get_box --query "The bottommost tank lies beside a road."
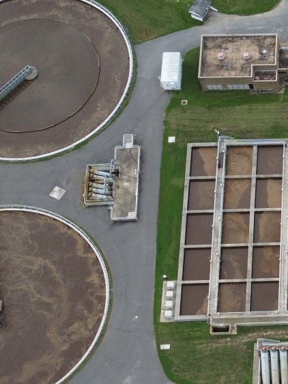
[0,203,112,384]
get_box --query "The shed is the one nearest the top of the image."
[189,0,217,22]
